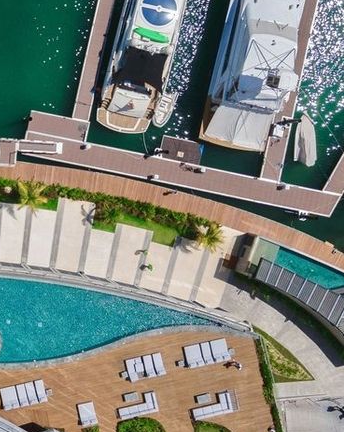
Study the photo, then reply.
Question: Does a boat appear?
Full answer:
Yes, looking at the shot, I can spot a boat.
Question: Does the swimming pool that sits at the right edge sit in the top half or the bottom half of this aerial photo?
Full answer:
The swimming pool that sits at the right edge sits in the bottom half of the picture.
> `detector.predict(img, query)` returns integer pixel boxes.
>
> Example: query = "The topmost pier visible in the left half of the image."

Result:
[71,0,115,121]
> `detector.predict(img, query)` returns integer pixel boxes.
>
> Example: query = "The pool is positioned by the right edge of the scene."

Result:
[247,235,344,329]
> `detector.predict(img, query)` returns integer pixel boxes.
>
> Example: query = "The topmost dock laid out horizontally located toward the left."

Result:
[27,111,89,142]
